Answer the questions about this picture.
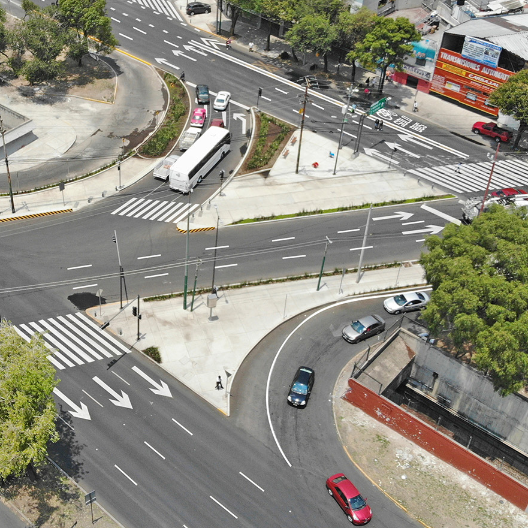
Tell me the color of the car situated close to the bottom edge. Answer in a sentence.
From above, the car situated close to the bottom edge appears red.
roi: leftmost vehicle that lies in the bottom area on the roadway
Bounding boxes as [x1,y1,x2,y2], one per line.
[286,366,316,411]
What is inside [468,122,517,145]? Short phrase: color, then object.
red truck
